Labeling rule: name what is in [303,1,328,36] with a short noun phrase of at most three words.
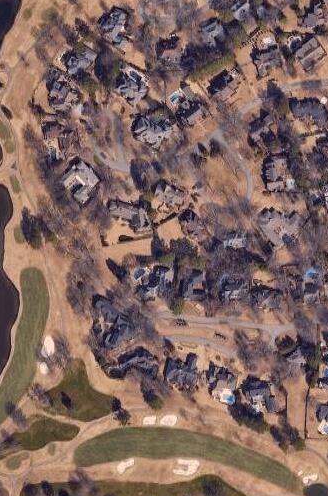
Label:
house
